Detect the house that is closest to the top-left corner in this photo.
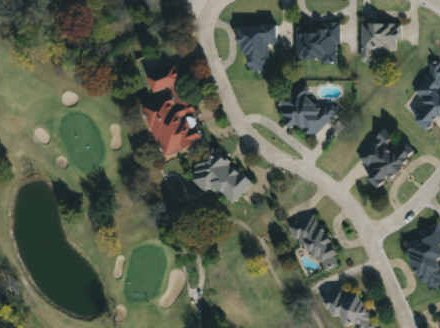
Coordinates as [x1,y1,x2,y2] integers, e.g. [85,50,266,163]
[144,64,203,160]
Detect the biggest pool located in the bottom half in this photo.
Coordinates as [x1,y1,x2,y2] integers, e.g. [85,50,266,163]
[296,247,320,276]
